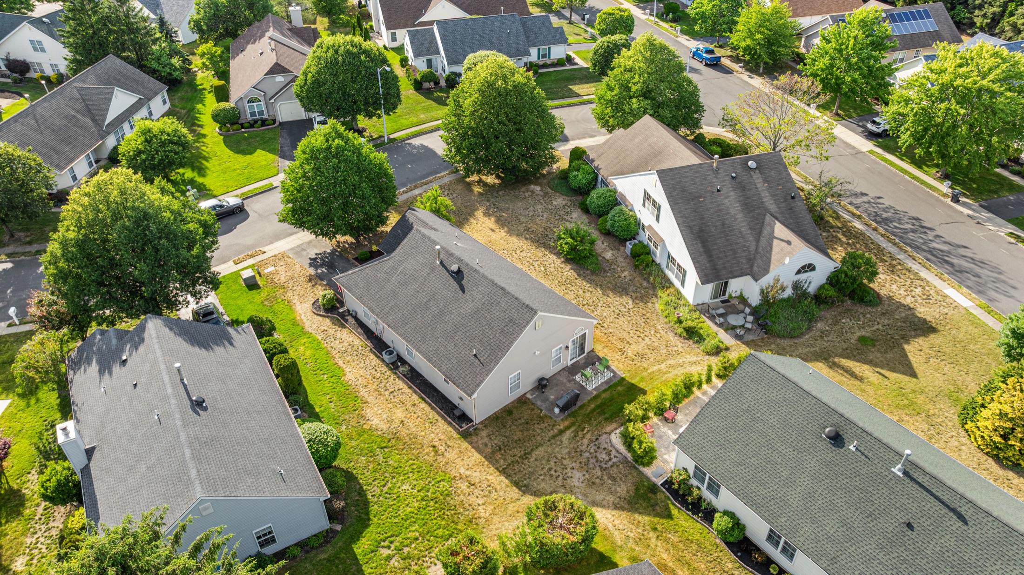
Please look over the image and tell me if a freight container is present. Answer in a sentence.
No, there is no freight container in the image.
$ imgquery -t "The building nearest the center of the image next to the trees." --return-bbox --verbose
[332,210,601,426]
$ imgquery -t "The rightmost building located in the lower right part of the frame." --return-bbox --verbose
[669,352,1024,575]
